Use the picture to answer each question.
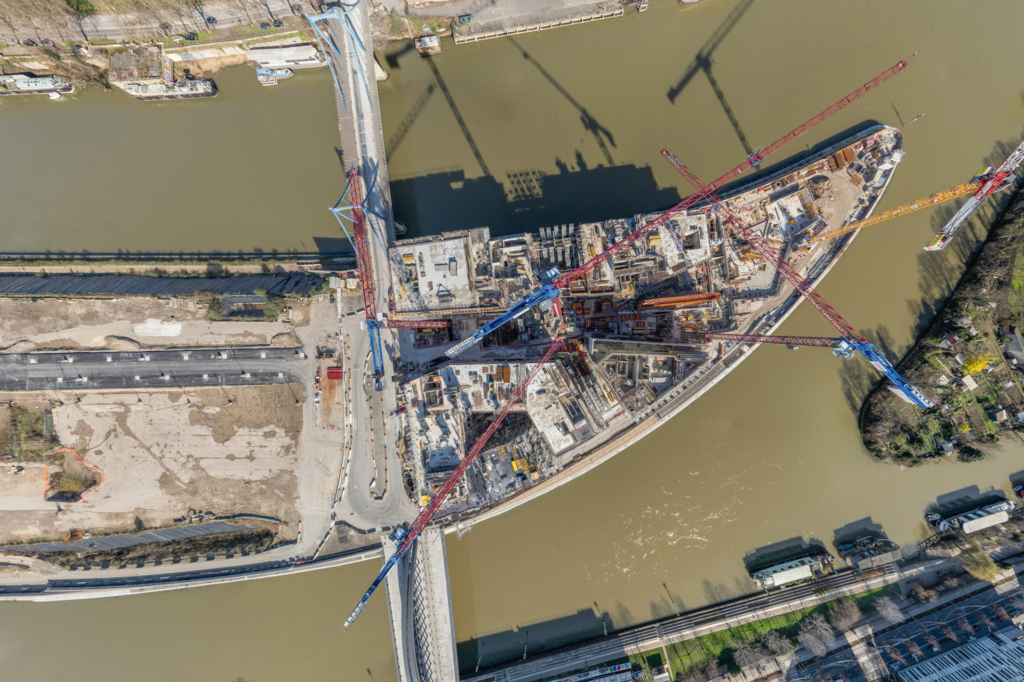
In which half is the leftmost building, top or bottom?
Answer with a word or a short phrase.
top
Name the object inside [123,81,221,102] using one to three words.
ship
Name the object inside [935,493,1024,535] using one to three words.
ship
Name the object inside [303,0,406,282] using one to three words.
bridge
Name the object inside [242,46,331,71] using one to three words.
boat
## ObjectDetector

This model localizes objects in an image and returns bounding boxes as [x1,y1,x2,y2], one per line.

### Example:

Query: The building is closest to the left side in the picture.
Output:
[107,43,183,88]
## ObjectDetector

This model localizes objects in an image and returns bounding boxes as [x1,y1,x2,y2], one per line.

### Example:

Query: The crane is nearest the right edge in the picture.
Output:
[803,131,1024,259]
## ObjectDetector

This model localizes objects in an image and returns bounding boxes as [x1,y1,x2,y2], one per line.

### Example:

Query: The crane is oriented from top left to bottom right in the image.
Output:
[644,138,944,416]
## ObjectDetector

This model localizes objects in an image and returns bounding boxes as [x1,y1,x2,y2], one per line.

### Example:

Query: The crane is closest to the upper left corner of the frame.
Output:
[345,155,458,403]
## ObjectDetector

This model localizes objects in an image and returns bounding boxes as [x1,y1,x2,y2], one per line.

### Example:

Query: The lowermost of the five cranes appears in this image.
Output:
[335,324,573,638]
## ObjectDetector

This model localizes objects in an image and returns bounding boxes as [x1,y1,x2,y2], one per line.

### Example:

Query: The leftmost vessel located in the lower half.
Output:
[748,547,834,593]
